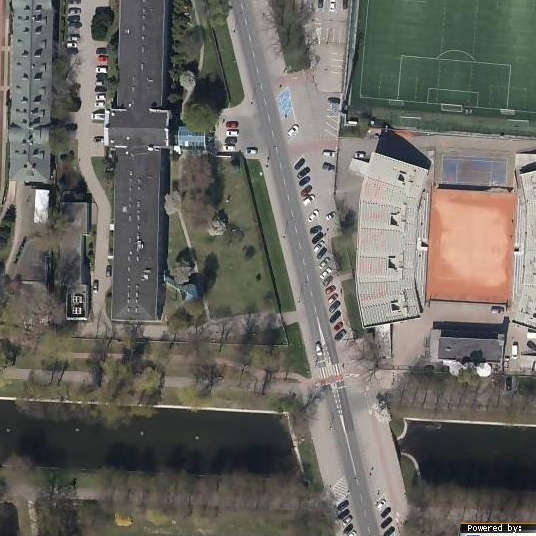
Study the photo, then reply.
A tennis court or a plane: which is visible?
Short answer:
tennis court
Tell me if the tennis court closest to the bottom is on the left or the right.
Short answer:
right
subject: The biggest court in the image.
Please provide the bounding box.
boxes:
[427,189,516,305]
